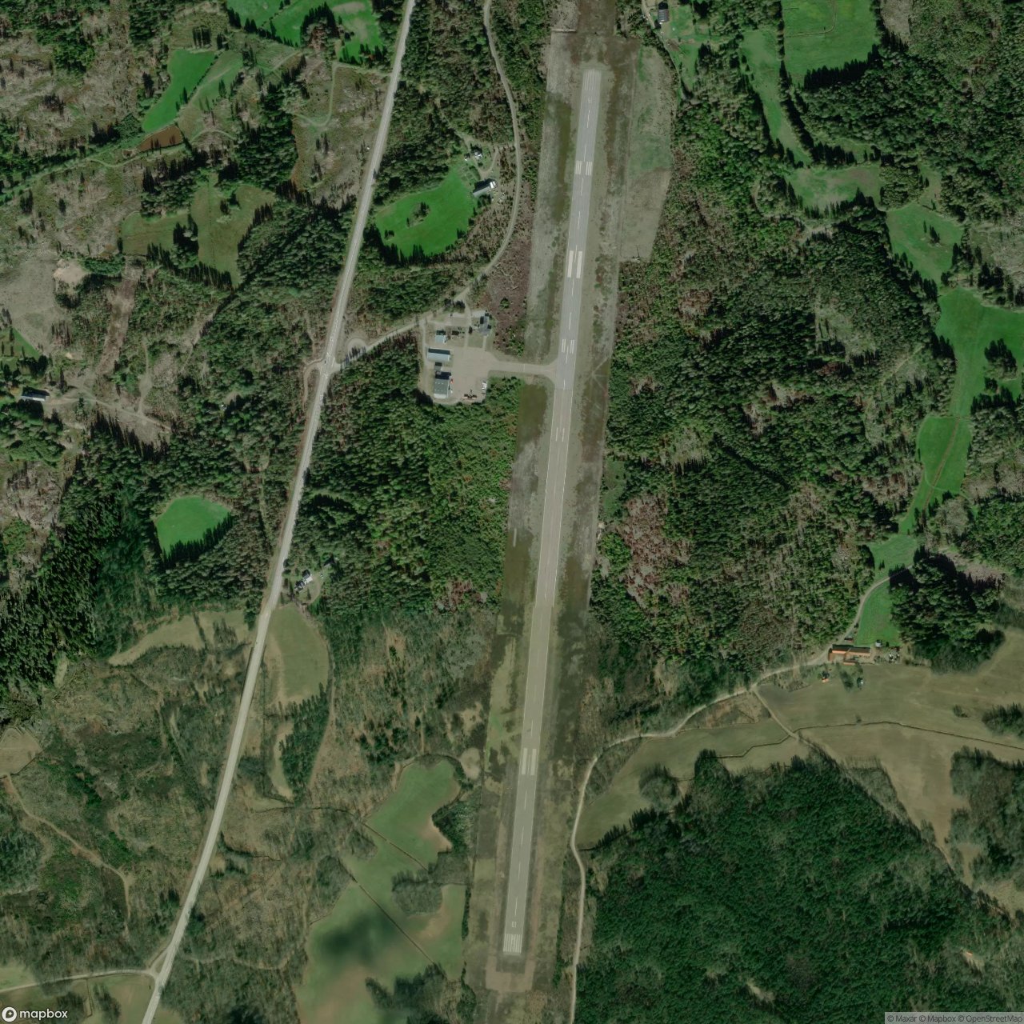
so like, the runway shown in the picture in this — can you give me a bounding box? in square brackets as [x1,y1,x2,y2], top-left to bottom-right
[503,70,601,957]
